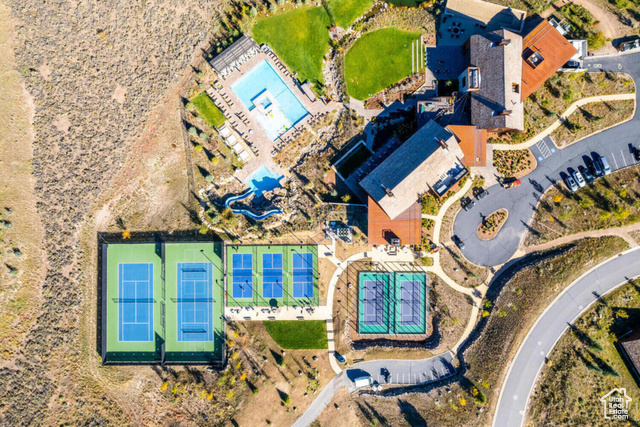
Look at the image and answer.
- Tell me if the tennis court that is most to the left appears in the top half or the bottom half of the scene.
bottom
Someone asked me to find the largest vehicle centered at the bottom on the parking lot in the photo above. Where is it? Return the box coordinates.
[354,374,373,387]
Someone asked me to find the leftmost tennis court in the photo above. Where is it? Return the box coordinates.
[107,244,163,361]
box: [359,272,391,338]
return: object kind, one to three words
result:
tennis court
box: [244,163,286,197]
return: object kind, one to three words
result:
swimming pool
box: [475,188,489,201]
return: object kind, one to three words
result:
vehicle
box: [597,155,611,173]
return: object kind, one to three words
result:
car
